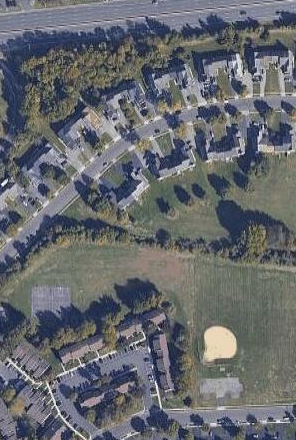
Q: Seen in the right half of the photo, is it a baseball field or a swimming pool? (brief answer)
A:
baseball field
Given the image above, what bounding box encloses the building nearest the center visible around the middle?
[107,172,149,211]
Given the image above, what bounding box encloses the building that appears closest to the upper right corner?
[251,54,289,76]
